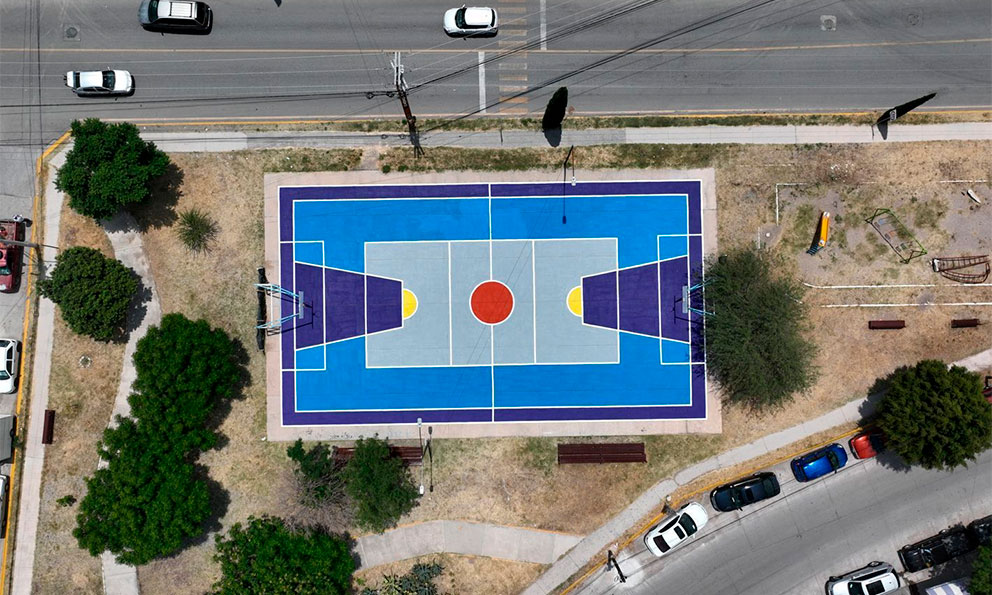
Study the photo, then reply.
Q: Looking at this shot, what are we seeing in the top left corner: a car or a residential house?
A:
car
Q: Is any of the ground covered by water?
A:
No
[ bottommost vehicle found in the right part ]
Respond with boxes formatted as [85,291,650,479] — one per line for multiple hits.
[823,558,898,595]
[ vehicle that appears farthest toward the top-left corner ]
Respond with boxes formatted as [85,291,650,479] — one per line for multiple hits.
[63,68,136,100]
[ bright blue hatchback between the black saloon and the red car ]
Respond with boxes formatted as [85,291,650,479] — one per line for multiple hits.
[789,442,849,483]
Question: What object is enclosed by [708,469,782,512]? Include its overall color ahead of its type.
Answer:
black car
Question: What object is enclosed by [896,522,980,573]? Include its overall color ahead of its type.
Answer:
black truck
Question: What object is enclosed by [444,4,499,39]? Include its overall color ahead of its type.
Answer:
white car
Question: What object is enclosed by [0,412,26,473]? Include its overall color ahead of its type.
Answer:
gray trailer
